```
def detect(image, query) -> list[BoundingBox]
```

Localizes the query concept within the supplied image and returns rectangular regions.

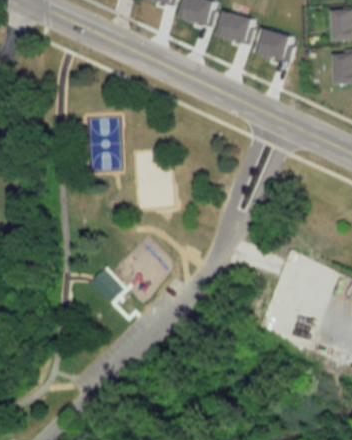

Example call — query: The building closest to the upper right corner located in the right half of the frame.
[331,8,352,40]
